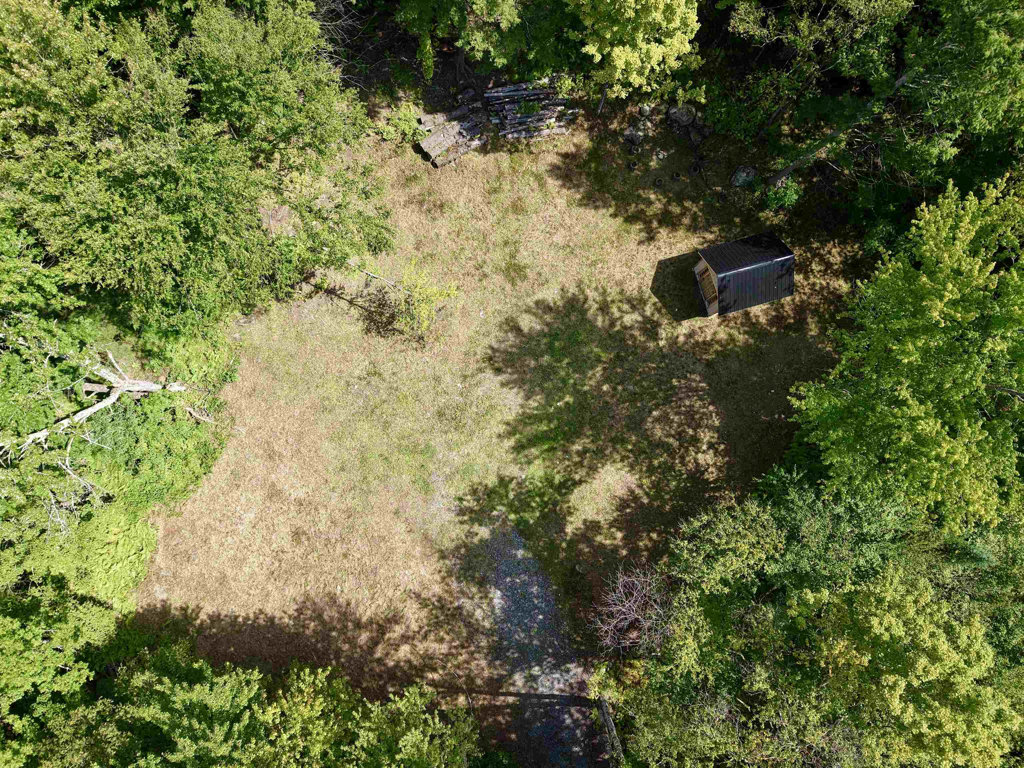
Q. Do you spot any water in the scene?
No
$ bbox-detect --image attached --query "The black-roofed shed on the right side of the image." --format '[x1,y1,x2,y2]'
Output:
[691,227,795,314]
